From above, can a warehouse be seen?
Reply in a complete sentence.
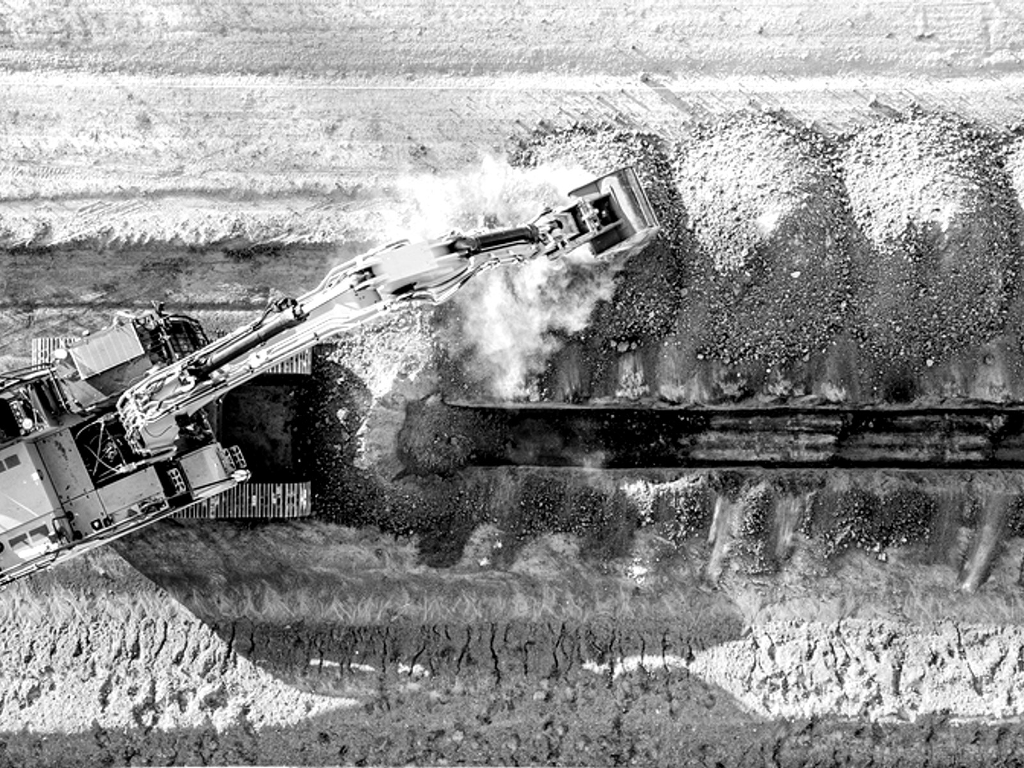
No, the picture doesn't show any warehouse.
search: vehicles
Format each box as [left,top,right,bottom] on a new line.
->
[0,162,665,590]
